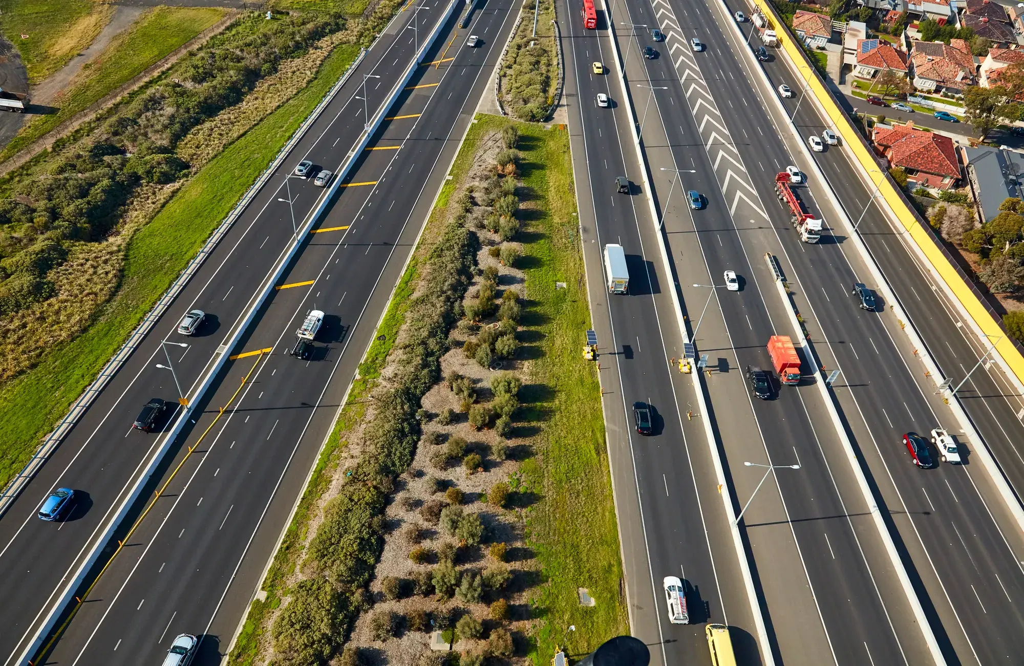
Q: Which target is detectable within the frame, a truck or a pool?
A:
truck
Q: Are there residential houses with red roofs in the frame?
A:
Yes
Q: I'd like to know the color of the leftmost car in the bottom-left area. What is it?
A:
blue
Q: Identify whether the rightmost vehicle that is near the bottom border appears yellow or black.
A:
yellow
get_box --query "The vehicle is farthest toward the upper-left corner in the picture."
[0,92,31,115]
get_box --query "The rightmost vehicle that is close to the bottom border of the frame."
[709,629,744,666]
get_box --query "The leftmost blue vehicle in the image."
[34,486,75,525]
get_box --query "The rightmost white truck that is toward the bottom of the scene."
[930,428,961,466]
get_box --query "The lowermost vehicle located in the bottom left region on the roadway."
[161,629,200,666]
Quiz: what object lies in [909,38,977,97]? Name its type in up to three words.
house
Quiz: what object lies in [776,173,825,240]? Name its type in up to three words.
truck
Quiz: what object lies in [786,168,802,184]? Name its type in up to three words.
car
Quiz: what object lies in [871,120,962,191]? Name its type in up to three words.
house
